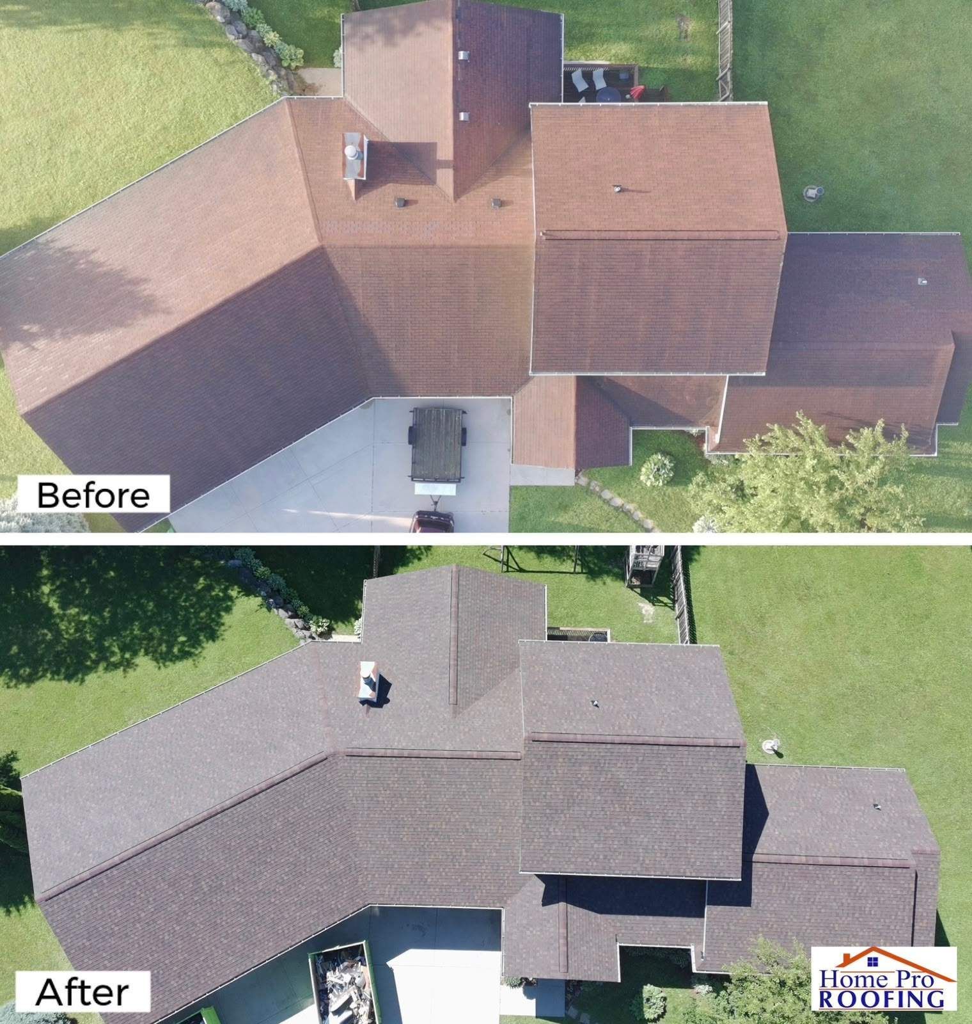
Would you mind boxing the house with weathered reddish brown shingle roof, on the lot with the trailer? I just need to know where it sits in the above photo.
[0,0,972,538]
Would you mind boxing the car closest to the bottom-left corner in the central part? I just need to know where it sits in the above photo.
[410,510,454,533]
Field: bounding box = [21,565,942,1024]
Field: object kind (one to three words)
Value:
house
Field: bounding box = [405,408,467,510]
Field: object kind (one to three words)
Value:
trailer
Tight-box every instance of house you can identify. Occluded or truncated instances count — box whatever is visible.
[21,565,942,1024]
[0,0,972,538]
